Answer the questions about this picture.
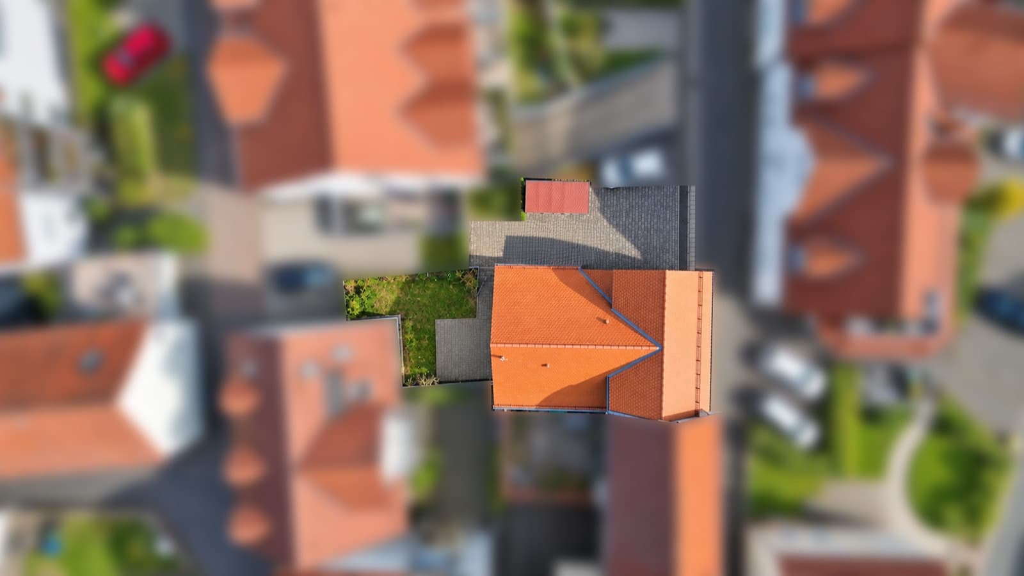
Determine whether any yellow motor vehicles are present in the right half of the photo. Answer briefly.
No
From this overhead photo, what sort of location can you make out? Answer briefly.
residential area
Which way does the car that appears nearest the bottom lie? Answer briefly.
at an angle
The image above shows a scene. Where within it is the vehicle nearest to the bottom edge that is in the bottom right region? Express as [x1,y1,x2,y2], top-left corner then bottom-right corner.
[753,392,820,451]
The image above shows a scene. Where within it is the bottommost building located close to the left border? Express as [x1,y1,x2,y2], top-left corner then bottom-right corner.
[0,316,201,480]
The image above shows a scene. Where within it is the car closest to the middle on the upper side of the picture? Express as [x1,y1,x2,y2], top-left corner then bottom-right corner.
[597,154,667,189]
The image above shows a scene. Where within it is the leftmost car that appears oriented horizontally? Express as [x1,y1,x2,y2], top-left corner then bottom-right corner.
[268,262,338,296]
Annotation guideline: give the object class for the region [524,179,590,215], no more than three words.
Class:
shed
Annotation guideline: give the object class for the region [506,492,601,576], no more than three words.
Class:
building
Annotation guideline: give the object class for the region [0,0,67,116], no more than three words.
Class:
house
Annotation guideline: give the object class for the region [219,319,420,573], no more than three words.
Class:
house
